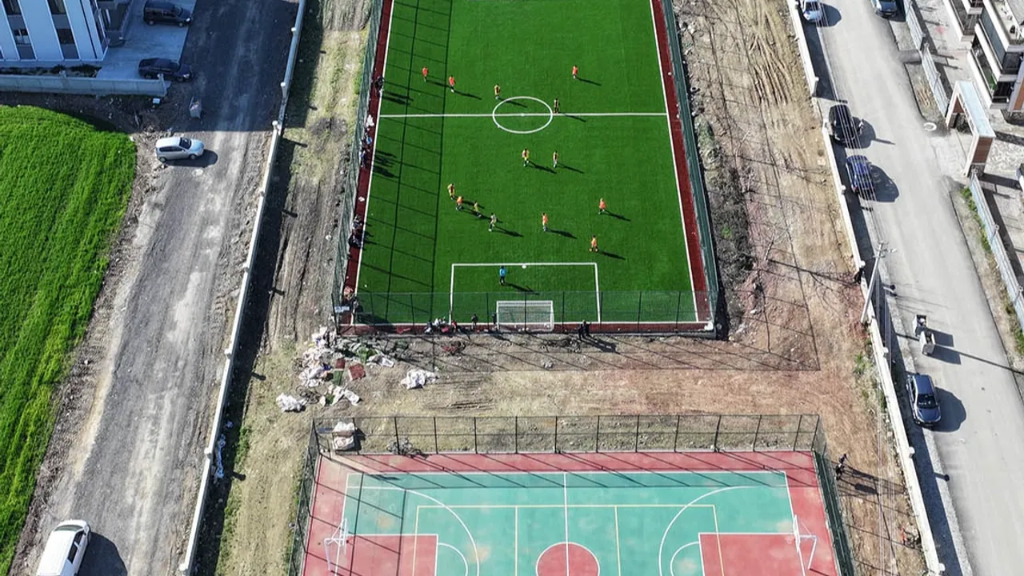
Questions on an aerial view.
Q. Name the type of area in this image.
sports ground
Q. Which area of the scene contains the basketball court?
bottom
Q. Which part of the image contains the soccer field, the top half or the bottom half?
top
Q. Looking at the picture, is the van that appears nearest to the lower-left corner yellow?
No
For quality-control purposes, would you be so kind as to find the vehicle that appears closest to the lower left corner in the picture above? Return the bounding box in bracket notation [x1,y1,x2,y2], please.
[33,519,91,576]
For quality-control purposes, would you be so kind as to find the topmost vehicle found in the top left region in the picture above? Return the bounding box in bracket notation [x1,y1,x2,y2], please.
[141,0,194,25]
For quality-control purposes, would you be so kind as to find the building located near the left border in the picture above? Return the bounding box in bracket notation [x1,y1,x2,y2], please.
[0,0,139,65]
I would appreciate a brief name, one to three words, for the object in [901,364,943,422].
car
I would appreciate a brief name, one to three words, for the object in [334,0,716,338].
soccer field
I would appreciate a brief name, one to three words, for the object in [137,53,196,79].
car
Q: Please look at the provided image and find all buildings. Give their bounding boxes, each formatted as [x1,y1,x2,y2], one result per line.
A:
[0,0,139,65]
[938,0,1024,118]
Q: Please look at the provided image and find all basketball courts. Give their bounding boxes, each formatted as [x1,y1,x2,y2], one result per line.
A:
[303,450,840,576]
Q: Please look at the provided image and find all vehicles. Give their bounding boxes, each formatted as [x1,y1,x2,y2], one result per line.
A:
[901,364,943,422]
[141,0,194,25]
[826,98,857,139]
[33,519,91,576]
[874,0,899,16]
[797,0,822,20]
[137,53,196,79]
[154,132,205,159]
[847,160,879,196]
